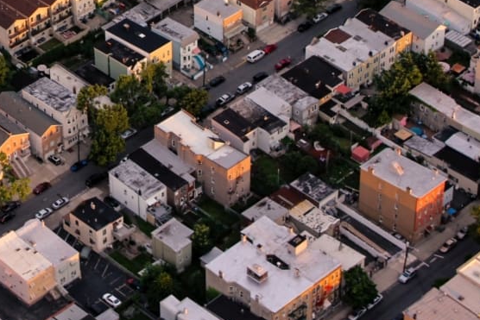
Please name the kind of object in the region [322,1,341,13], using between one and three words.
vehicle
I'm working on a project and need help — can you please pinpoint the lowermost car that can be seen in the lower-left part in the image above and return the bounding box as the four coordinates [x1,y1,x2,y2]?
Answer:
[100,292,123,310]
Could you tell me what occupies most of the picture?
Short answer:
buildings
